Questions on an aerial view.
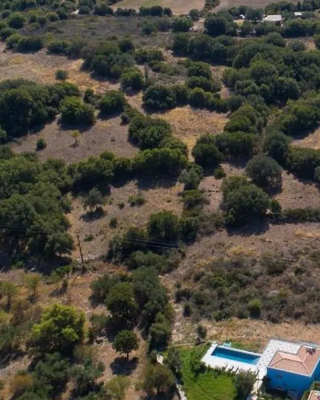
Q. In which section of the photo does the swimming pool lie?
bottom right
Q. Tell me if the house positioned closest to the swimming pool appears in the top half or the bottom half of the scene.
bottom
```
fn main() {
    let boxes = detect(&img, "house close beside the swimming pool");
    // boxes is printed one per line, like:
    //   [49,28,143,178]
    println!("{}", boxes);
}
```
[266,339,320,393]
